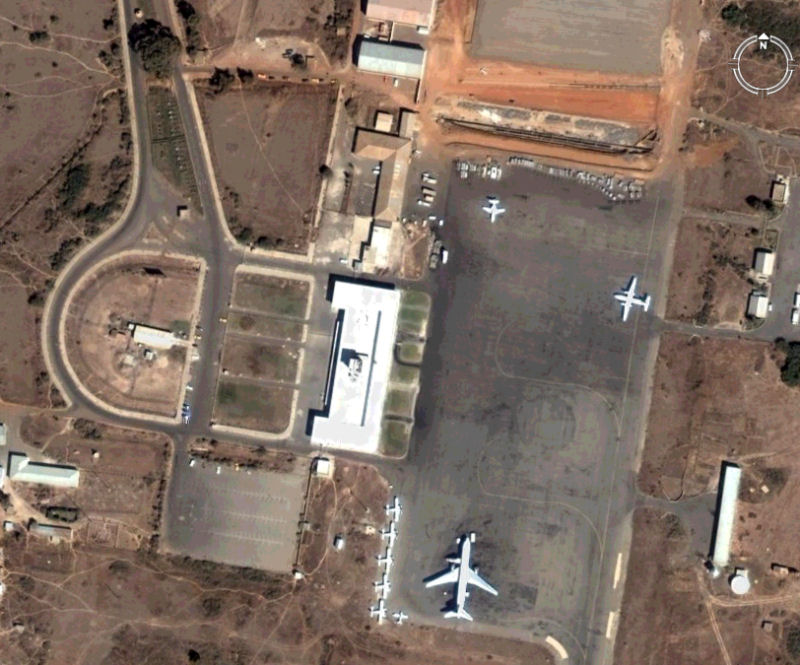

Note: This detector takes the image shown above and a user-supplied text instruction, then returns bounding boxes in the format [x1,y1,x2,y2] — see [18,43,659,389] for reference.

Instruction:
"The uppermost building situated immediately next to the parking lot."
[311,281,400,453]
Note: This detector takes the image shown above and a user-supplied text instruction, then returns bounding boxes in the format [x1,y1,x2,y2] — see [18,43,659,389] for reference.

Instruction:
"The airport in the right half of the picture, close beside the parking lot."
[376,148,800,665]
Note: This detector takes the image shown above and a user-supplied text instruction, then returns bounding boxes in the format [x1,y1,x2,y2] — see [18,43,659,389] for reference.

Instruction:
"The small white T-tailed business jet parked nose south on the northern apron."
[482,198,505,223]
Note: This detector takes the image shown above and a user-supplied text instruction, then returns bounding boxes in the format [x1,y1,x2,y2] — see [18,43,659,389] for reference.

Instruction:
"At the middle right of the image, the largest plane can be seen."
[615,277,652,321]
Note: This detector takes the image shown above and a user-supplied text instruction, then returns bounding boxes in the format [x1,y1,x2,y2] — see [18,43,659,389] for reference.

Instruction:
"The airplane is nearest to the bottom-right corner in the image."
[427,536,498,620]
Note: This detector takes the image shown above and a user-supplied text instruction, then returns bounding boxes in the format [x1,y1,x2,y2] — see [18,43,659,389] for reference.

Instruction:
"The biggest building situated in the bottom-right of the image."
[712,467,744,567]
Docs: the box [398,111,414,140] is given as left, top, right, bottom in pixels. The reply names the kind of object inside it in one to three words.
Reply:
shed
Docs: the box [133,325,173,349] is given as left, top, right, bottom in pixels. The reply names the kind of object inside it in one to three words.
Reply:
building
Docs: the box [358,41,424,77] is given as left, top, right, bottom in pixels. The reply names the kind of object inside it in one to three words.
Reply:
building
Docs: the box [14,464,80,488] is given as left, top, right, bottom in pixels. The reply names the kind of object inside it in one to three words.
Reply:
house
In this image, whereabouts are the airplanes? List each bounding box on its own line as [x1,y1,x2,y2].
[482,198,505,223]
[615,277,652,321]
[371,601,387,624]
[376,574,391,598]
[387,499,402,522]
[382,523,398,547]
[427,536,498,620]
[379,548,395,571]
[393,611,405,624]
